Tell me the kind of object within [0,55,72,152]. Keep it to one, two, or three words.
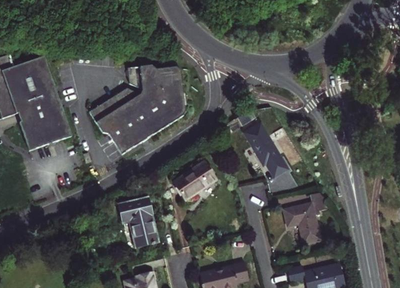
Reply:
building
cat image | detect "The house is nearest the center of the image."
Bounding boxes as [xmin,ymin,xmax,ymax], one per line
[172,160,219,202]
